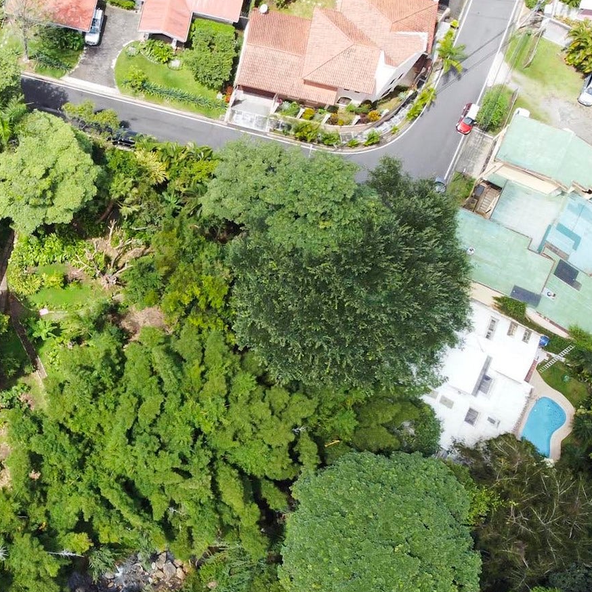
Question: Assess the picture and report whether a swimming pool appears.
Yes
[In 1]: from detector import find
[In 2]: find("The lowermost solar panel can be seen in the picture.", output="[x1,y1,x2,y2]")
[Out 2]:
[510,286,541,306]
